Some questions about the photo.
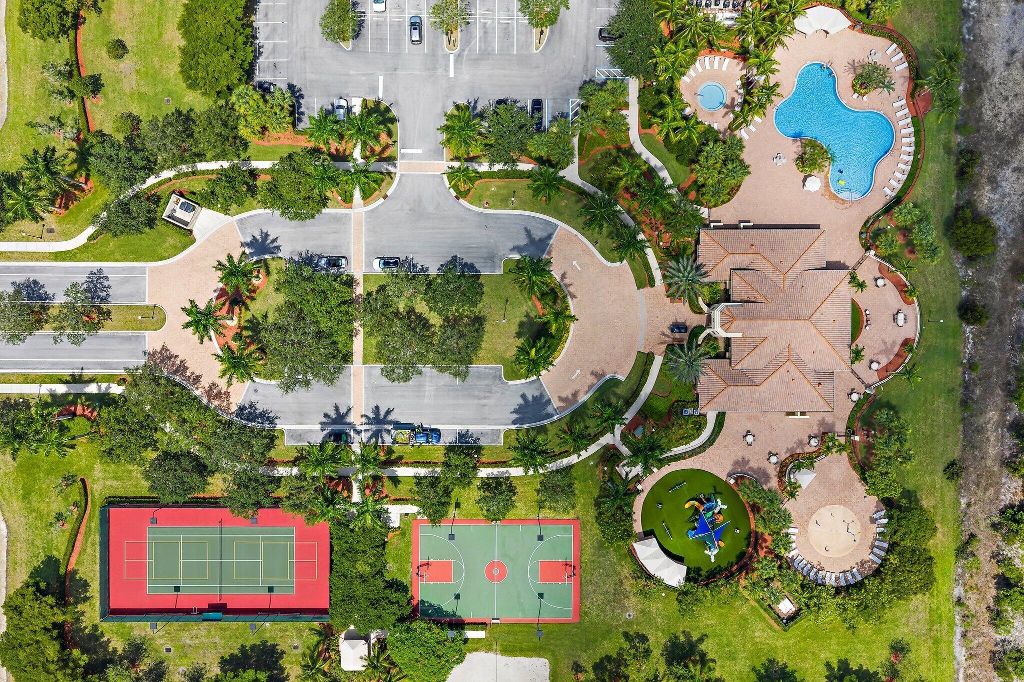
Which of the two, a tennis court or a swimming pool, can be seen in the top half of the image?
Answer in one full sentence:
There is a swimming pool in the top half of the image.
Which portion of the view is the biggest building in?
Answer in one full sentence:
The biggest building is in the right part of the image.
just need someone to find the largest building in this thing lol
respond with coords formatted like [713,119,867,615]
[697,229,852,412]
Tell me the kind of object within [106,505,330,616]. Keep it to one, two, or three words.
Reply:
tennis court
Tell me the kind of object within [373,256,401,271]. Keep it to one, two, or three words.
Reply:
car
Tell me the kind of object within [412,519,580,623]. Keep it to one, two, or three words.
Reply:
basketball court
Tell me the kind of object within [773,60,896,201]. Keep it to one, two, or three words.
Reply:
swimming pool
